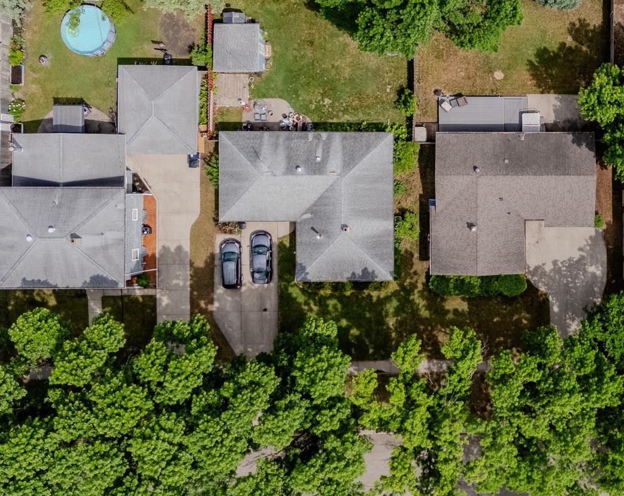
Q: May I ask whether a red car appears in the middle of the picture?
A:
No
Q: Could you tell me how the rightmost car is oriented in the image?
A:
up and down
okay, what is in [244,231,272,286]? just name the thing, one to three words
car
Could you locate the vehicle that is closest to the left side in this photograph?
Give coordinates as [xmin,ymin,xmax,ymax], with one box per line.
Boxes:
[214,238,242,291]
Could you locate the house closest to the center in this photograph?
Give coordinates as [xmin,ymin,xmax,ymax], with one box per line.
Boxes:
[218,131,395,283]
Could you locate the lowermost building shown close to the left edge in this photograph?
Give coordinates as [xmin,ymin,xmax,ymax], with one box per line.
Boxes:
[0,132,149,289]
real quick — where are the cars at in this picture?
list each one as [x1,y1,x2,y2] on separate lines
[214,238,242,291]
[244,231,272,286]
